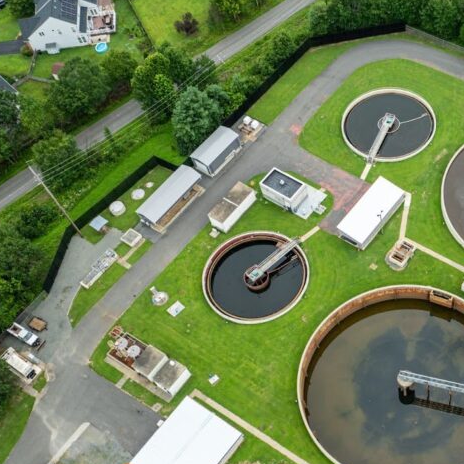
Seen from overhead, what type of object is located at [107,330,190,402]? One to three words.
building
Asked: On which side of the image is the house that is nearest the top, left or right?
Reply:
left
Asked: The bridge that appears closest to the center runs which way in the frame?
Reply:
diagonally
